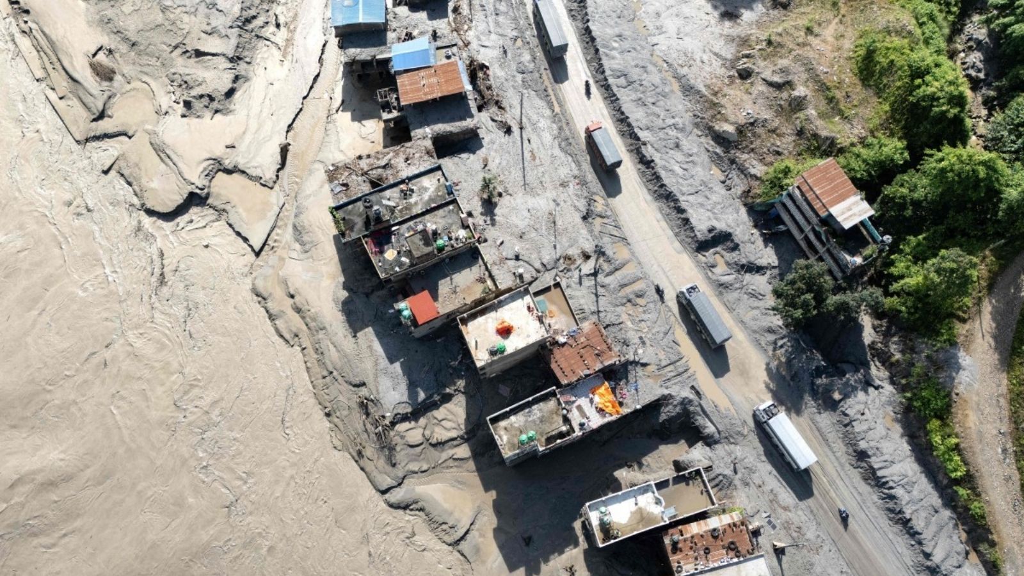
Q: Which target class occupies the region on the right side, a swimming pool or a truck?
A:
truck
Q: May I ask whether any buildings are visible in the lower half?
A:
Yes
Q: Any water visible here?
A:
Yes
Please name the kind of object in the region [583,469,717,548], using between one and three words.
house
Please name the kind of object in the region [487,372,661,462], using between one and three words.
house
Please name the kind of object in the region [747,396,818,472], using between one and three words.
truck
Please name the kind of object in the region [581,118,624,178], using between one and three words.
truck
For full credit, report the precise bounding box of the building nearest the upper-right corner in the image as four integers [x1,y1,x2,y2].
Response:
[771,158,882,284]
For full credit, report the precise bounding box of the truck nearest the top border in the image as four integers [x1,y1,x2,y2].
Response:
[528,0,569,63]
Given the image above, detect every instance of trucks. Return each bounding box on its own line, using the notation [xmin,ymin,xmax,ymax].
[747,396,818,472]
[675,282,734,352]
[528,0,569,63]
[581,118,624,178]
